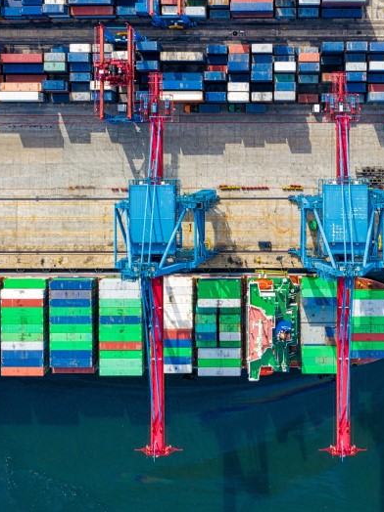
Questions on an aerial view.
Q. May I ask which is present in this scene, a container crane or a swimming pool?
container crane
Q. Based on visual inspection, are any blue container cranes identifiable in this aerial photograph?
Yes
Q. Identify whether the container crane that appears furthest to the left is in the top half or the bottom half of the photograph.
top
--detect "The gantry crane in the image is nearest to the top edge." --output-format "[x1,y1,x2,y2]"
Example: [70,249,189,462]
[146,0,199,29]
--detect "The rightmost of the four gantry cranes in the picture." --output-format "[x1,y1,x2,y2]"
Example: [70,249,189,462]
[289,72,384,462]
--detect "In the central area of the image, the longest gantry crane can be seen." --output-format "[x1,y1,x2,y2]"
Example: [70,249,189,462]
[109,72,220,464]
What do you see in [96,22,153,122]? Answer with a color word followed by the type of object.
red container crane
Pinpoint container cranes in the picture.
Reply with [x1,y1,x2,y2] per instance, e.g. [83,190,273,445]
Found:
[146,0,199,29]
[289,72,384,462]
[109,72,220,464]
[96,22,153,122]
